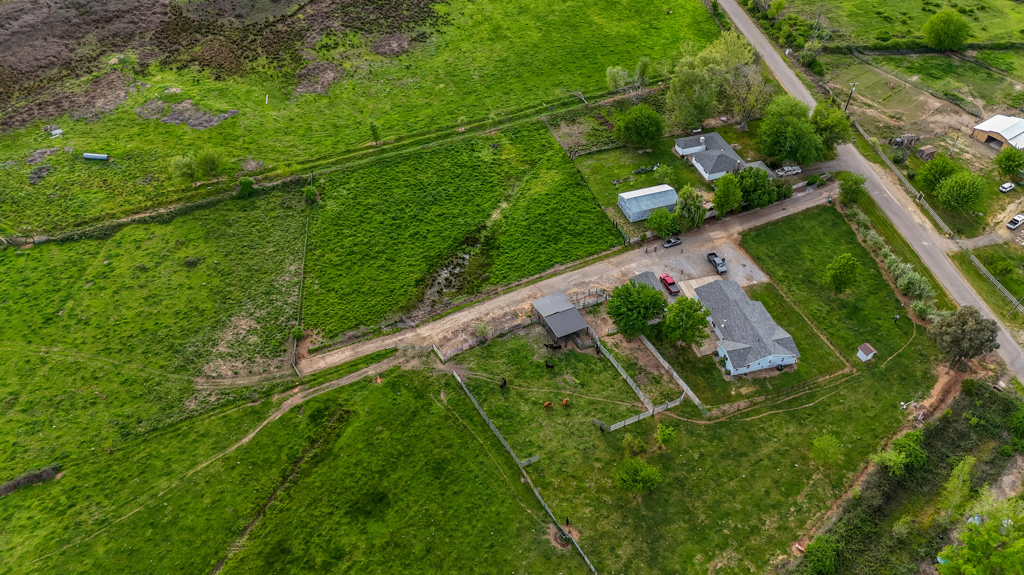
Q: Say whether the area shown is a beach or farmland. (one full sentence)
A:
The area seen from above is farmland.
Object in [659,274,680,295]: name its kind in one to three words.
truck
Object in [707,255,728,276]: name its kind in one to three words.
truck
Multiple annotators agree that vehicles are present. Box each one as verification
[662,237,683,248]
[999,182,1016,192]
[776,165,799,177]
[1006,214,1024,229]
[659,274,680,295]
[707,255,728,276]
